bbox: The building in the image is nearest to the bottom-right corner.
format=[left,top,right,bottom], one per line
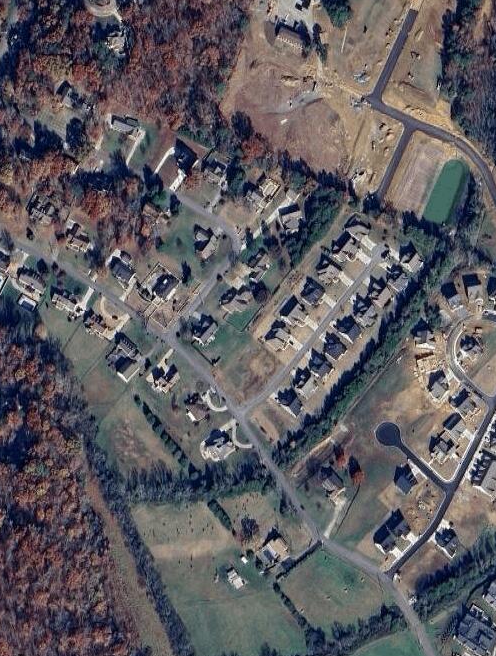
[454,610,496,655]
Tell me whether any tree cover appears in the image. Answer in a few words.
Yes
